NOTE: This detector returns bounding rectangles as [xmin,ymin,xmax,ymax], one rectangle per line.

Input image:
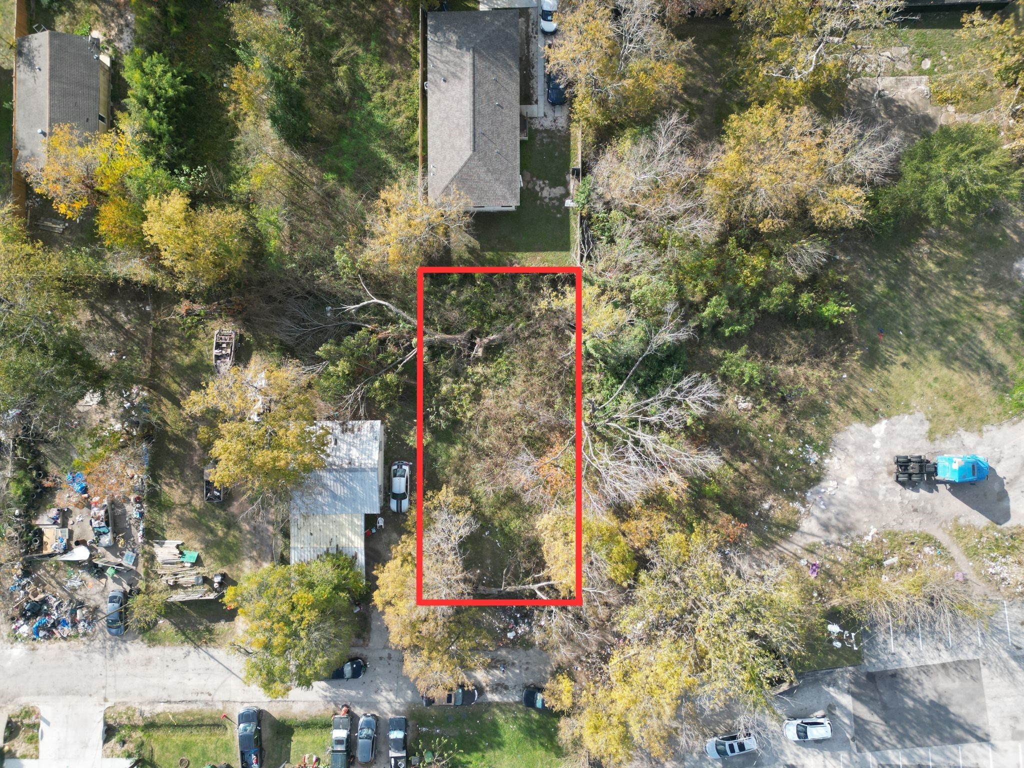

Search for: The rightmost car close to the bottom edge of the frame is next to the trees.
[781,717,830,743]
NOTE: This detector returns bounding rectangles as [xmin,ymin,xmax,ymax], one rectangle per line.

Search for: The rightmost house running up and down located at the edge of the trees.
[426,2,528,211]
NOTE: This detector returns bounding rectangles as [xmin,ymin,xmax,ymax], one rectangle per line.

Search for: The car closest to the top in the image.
[537,0,561,38]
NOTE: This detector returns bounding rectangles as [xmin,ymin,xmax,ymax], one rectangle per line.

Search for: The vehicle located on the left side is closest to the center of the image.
[388,461,412,512]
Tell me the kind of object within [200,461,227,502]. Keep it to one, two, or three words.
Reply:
trailer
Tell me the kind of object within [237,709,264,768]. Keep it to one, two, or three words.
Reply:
truck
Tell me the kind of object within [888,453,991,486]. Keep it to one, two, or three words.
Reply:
truck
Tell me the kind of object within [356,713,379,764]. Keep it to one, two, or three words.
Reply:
car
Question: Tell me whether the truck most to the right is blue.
Yes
